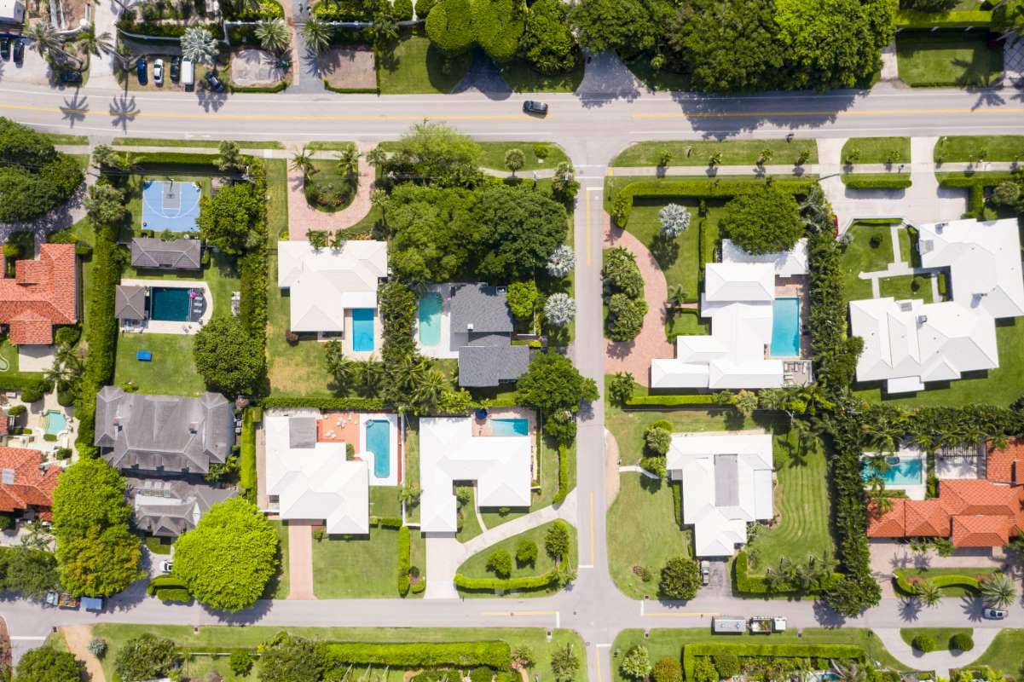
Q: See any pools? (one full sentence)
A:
Yes, there's a pool here.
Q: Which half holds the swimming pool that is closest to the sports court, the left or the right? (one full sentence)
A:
It is on the left.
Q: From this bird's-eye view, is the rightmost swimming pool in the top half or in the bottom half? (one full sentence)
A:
It is in the bottom half that the rightmost swimming pool appears.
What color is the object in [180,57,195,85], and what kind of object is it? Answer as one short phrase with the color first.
white vehicle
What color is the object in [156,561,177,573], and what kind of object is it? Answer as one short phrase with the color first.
white vehicle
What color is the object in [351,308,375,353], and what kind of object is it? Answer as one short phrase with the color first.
blue swimming pool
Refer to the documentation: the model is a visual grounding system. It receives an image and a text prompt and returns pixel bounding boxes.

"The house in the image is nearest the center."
[439,283,529,386]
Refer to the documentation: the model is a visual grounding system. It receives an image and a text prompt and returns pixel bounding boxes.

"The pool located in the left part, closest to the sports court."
[151,286,191,322]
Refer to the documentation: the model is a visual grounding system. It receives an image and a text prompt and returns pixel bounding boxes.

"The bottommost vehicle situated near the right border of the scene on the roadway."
[981,607,1005,619]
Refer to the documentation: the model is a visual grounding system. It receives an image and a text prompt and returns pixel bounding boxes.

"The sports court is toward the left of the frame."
[142,181,201,232]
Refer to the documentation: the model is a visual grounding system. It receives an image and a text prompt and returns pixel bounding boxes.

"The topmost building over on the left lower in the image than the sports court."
[131,238,205,269]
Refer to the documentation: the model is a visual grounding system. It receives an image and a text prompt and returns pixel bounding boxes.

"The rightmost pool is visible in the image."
[861,455,923,486]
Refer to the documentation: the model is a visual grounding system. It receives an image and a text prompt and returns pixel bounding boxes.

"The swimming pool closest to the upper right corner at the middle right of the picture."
[769,296,802,358]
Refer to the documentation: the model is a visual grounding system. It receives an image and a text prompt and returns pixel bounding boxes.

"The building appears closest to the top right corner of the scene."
[845,217,1024,393]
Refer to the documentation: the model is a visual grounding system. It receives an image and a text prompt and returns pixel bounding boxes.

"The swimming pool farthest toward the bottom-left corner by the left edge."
[40,408,68,436]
